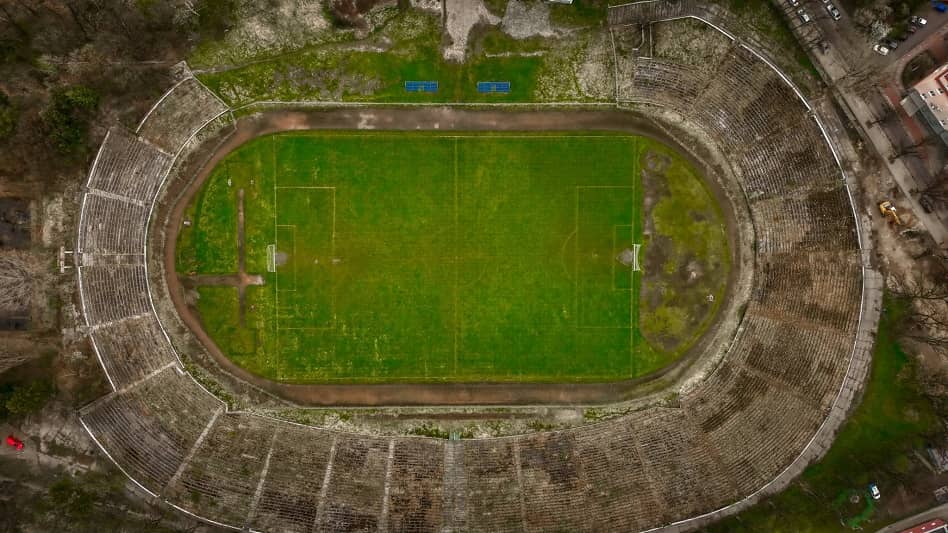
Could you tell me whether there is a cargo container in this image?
No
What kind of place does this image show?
sports ground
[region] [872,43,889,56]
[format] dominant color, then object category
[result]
white vehicle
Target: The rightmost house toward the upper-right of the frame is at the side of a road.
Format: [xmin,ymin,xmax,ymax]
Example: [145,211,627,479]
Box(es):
[900,60,948,153]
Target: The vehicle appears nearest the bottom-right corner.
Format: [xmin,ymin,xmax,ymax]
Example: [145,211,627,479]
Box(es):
[867,483,879,498]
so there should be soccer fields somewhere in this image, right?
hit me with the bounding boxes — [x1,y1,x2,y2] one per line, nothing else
[274,136,635,378]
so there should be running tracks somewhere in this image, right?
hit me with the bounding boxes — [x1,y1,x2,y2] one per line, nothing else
[165,107,742,406]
